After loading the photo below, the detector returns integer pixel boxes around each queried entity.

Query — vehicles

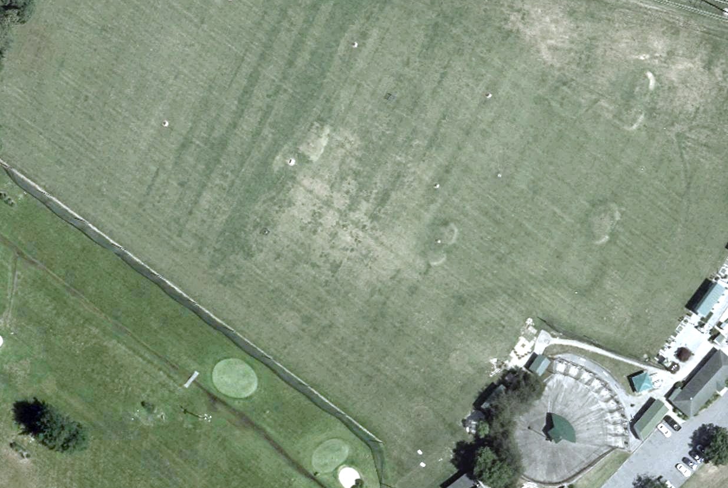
[656,422,671,438]
[682,454,697,471]
[666,479,676,488]
[664,415,681,431]
[675,461,691,478]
